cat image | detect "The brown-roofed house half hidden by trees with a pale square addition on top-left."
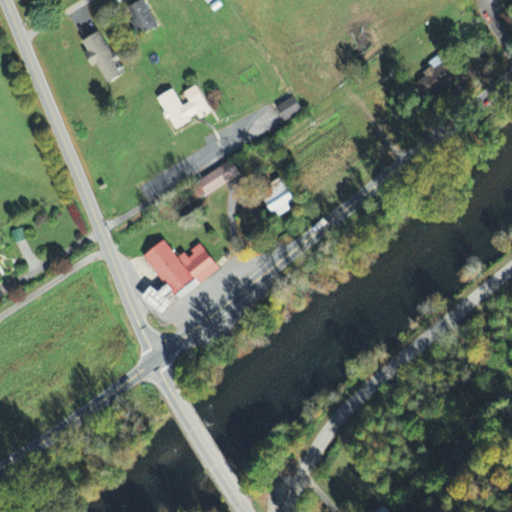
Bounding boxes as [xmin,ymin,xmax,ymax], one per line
[418,54,450,90]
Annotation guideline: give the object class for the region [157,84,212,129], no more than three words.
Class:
house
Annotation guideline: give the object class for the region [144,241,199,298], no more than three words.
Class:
building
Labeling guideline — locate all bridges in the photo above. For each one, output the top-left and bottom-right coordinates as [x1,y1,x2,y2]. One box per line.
[163,387,252,512]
